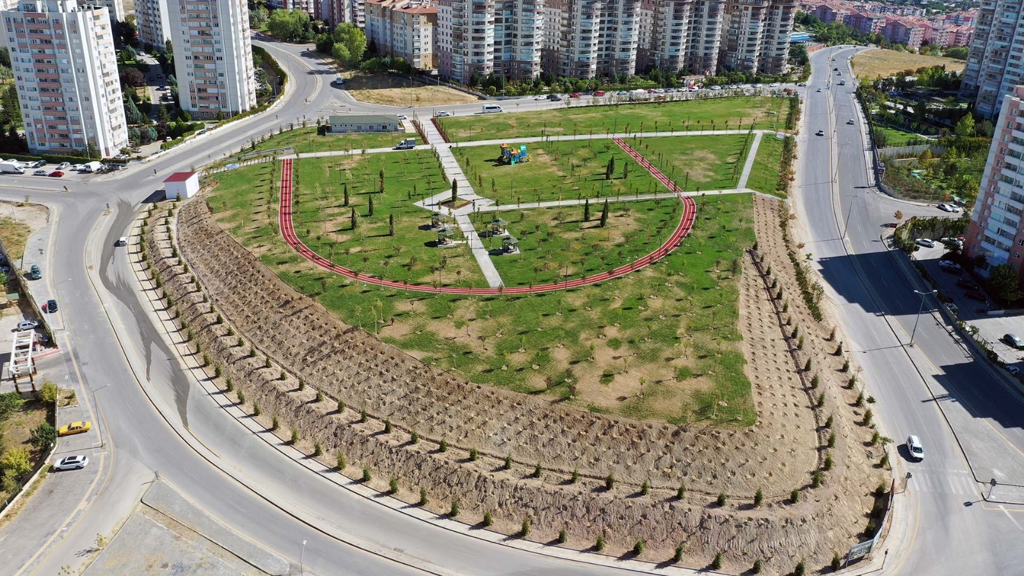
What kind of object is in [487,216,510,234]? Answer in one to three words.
gazebo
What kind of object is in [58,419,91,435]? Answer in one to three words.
car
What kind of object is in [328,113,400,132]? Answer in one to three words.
building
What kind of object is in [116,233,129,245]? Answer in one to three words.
vehicle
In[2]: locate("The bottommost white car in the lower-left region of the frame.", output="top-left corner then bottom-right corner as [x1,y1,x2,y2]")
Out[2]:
[51,451,88,471]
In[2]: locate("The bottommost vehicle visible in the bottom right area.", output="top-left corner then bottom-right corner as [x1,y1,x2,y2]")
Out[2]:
[908,434,926,460]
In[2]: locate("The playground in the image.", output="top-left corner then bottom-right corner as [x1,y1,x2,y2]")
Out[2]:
[499,142,533,166]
